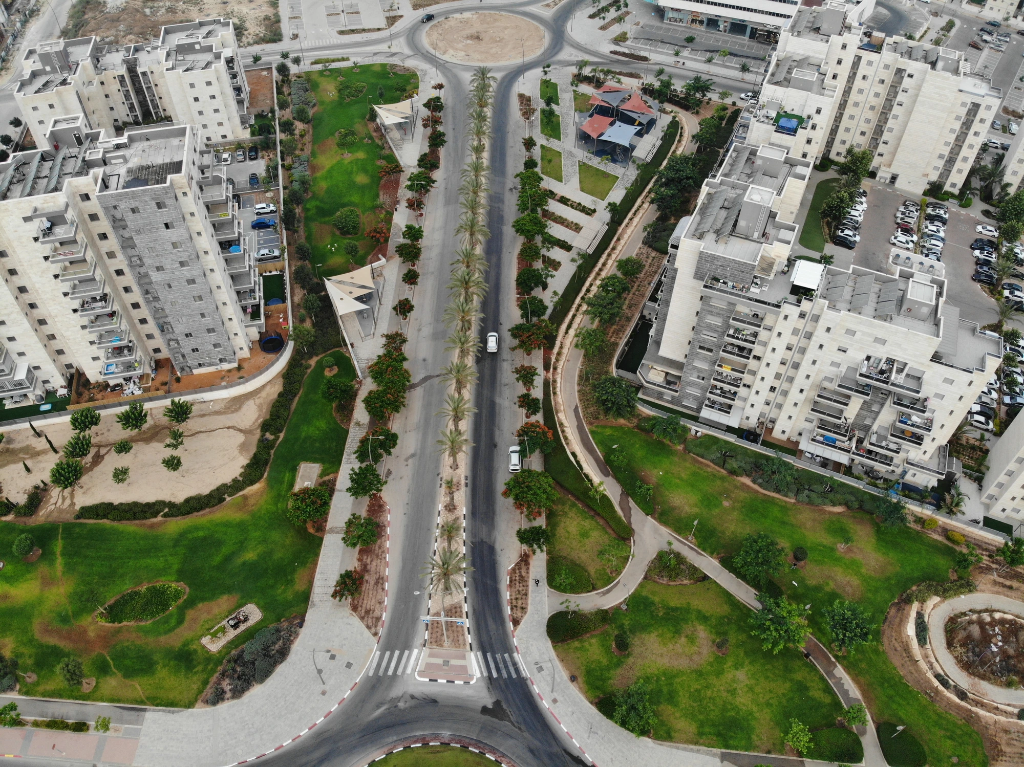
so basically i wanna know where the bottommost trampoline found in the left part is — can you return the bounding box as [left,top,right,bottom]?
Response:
[259,328,283,351]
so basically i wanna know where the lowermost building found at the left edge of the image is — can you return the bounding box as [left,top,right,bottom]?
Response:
[0,115,263,401]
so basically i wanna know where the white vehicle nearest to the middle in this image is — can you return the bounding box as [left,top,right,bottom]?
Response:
[485,333,499,353]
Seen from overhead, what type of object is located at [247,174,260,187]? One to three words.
vehicle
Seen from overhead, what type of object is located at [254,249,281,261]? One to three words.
vehicle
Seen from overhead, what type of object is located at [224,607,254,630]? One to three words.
work vehicle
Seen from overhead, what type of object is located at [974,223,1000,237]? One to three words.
car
